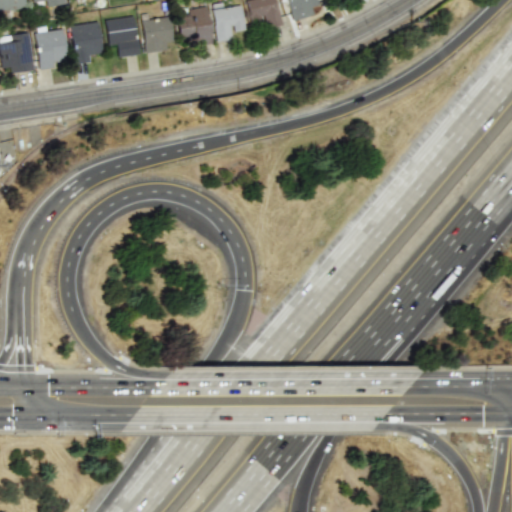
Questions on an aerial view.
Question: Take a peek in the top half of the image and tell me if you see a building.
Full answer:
Yes, a building shows up in the top half of the image.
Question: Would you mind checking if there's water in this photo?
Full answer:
No, there is no water in the image.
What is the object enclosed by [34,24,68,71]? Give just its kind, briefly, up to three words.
house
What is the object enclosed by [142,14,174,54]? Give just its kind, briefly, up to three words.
house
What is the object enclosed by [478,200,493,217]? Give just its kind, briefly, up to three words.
vehicle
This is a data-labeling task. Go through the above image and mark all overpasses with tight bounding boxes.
[118,366,426,435]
